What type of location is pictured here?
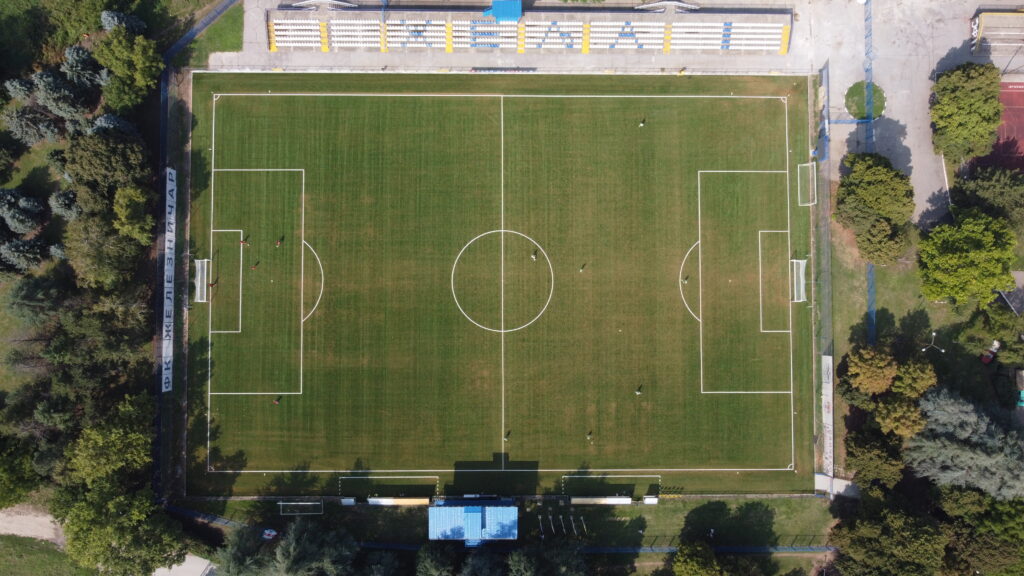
sports ground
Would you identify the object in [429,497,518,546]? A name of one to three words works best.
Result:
building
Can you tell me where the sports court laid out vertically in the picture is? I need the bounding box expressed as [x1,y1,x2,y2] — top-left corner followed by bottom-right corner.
[985,82,1024,171]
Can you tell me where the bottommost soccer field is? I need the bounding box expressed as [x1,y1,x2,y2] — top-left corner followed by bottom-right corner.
[186,74,814,498]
